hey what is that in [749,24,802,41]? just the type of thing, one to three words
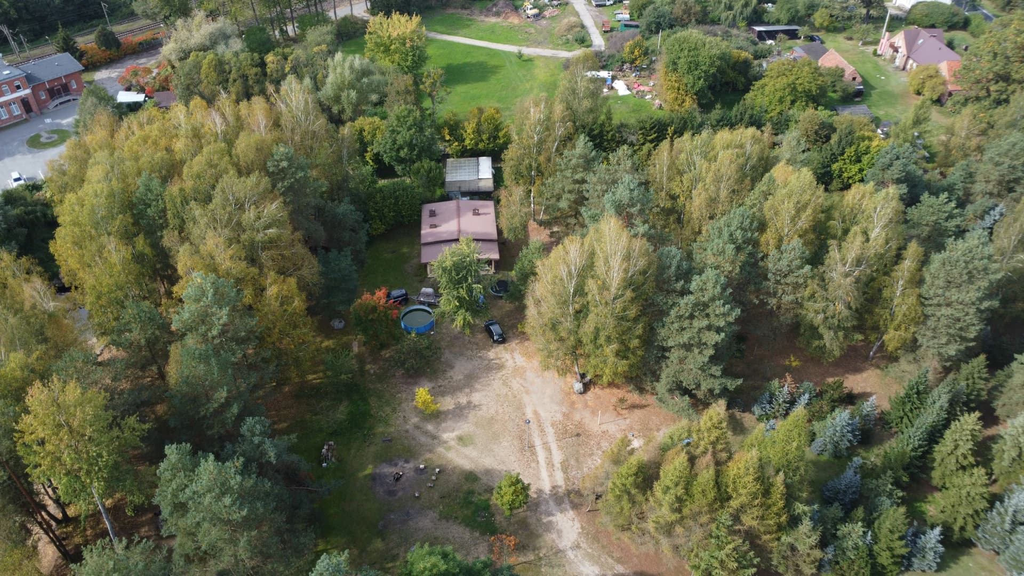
shed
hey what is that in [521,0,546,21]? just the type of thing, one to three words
work vehicle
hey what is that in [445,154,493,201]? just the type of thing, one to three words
shed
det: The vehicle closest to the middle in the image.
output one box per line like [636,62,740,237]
[483,316,507,340]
